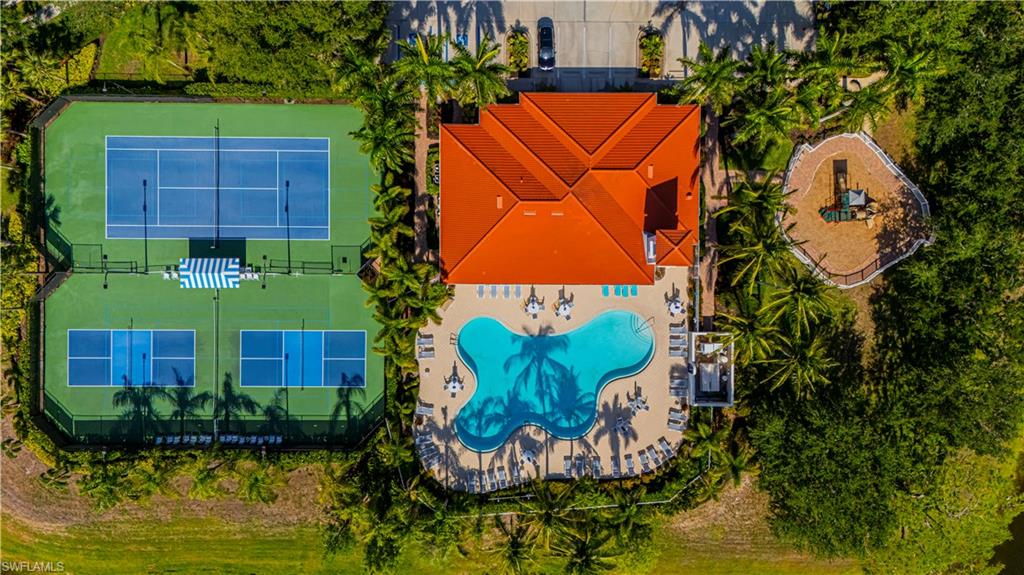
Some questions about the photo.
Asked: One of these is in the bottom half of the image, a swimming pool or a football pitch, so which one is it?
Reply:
swimming pool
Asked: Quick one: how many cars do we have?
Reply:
one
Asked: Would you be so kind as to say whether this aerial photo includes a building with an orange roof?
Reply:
Yes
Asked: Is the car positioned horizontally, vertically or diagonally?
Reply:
vertically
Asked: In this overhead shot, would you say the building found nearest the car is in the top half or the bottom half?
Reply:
top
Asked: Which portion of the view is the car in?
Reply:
top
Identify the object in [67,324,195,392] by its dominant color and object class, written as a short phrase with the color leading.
blue sports court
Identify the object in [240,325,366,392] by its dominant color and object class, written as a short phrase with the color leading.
blue sports court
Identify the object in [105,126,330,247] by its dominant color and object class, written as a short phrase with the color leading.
blue tennis court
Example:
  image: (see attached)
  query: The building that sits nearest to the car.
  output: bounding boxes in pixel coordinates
[439,92,702,285]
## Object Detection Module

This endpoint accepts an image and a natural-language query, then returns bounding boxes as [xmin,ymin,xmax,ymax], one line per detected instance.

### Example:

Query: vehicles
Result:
[536,19,557,69]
